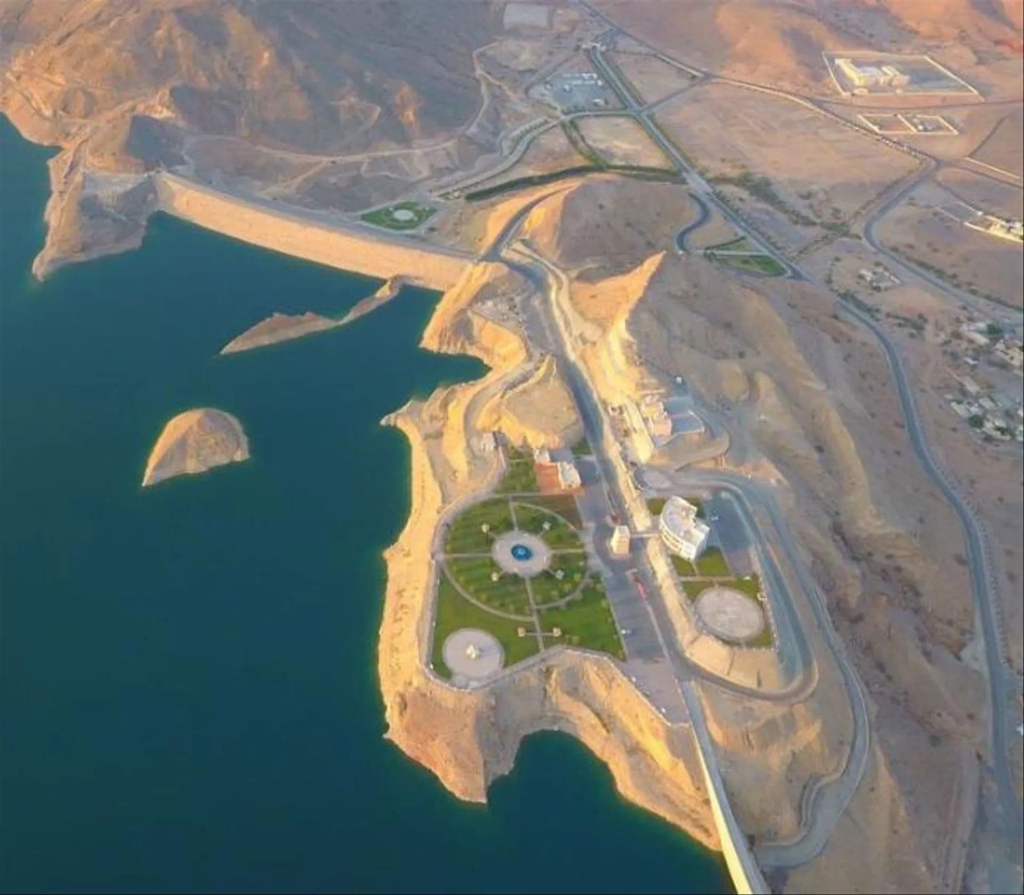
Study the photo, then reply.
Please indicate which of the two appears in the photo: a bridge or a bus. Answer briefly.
bridge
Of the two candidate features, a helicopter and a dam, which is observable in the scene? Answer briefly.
dam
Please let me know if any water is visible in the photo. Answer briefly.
Yes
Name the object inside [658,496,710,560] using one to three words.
building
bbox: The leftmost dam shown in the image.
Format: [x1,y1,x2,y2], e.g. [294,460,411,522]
[159,171,476,289]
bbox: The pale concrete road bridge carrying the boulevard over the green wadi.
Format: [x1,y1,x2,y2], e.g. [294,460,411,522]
[678,167,719,200]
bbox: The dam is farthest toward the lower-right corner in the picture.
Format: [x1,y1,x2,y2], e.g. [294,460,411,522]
[694,727,772,895]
